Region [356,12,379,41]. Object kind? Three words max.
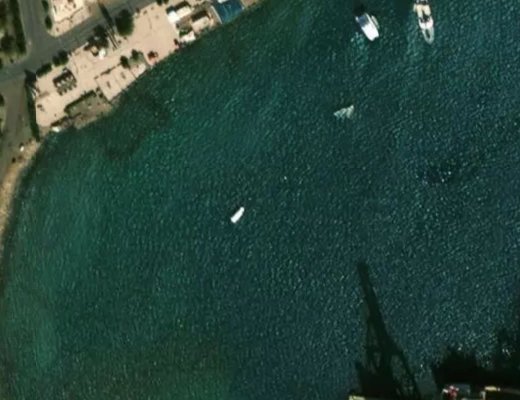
boat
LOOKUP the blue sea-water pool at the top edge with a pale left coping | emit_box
[210,0,247,26]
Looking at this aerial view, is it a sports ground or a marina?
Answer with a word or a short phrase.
marina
